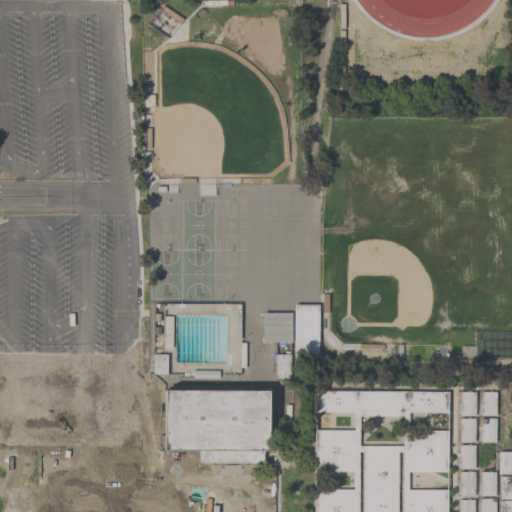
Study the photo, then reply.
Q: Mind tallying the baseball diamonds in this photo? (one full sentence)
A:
The picture shows 2 baseball diamonds.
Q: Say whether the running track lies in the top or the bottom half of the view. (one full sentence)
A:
Seen from above, the running track lies in the top half of the view.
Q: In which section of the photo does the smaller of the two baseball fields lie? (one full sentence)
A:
Look in the right portion of the view to spot the smaller of the two baseball fields.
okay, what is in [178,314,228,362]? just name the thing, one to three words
swimming pool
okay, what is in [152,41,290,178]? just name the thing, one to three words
baseball field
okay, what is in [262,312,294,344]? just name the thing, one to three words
building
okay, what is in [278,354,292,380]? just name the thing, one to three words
building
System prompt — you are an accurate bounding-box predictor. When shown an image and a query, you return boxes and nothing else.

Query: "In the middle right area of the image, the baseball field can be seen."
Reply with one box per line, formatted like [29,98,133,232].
[341,239,432,332]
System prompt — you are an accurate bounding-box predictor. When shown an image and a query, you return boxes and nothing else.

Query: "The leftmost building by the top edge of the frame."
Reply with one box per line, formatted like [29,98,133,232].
[150,0,187,38]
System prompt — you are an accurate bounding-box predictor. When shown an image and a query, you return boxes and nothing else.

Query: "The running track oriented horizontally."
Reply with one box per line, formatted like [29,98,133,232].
[353,0,499,40]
